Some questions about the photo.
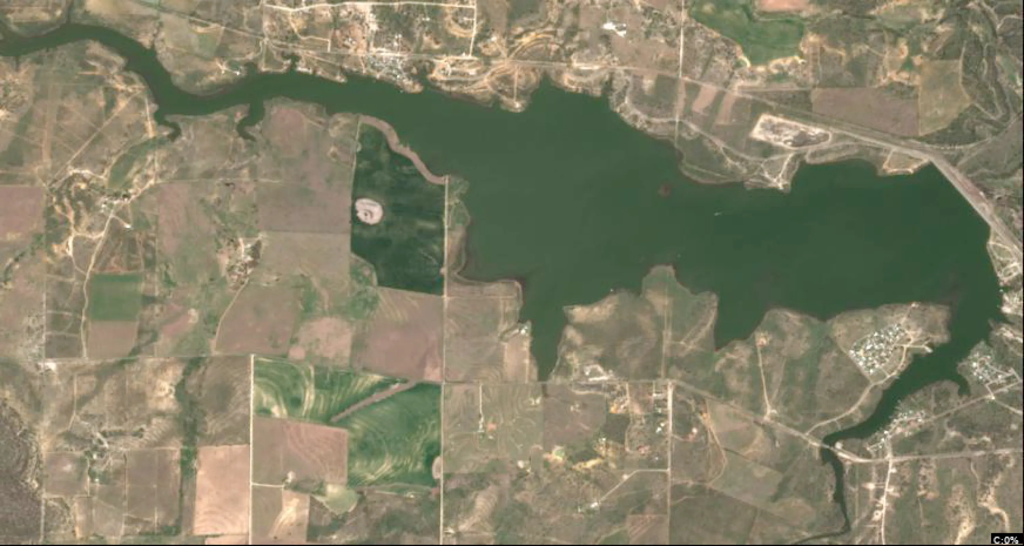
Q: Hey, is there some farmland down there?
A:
Yes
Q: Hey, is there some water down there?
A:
Yes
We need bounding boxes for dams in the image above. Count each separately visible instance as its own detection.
[926,148,1024,257]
